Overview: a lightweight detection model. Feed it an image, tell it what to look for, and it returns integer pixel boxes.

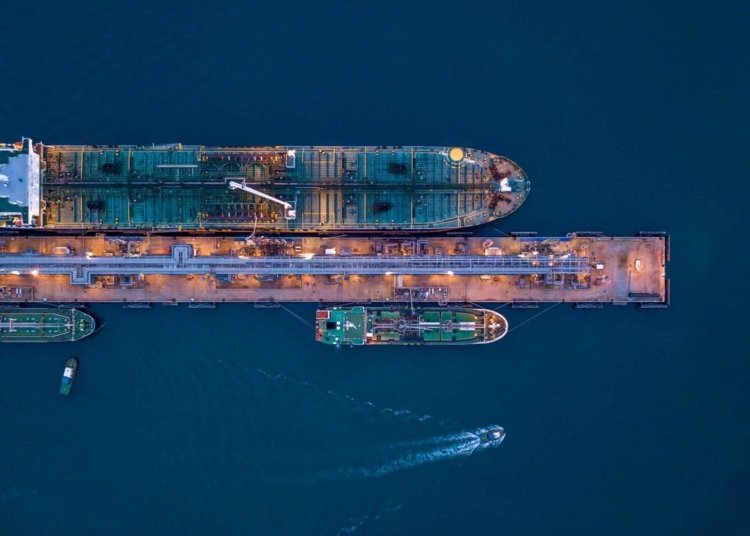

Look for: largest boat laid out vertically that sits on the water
[59,357,76,394]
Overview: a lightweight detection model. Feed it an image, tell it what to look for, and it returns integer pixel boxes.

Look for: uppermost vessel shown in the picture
[0,138,530,231]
